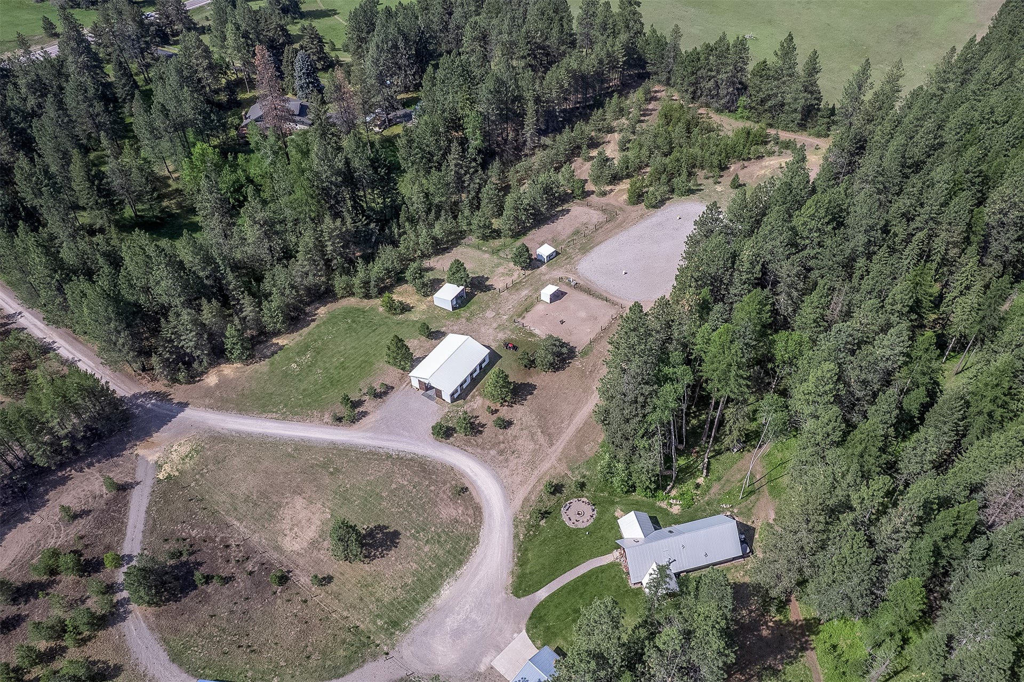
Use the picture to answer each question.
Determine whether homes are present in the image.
Yes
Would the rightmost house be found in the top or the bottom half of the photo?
bottom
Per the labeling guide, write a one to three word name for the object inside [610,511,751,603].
house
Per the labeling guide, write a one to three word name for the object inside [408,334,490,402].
barn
